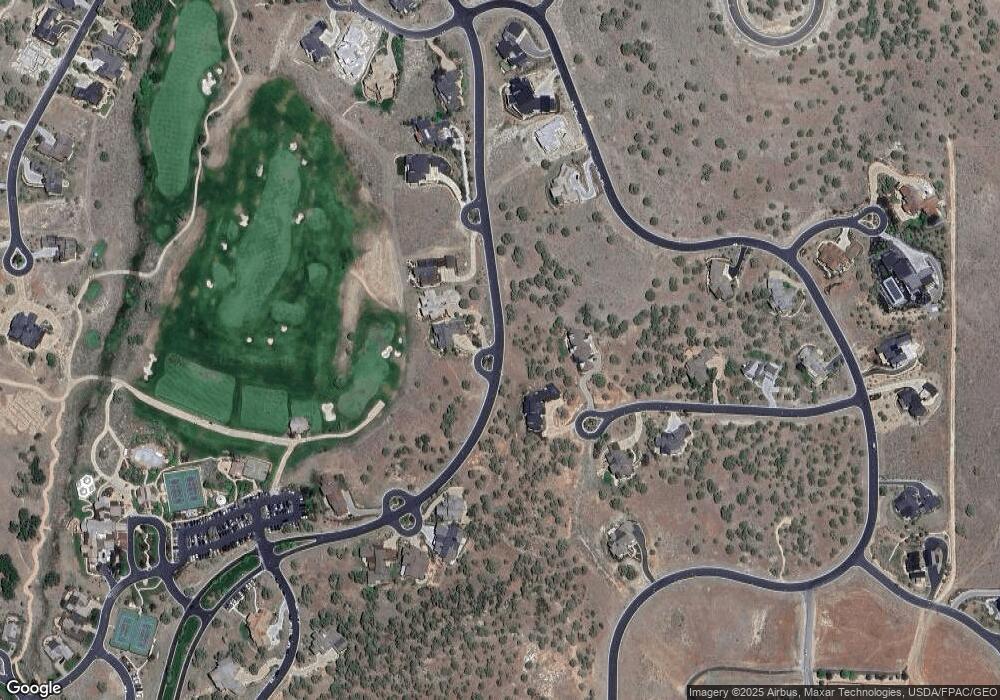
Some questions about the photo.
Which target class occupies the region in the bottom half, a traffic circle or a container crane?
traffic circle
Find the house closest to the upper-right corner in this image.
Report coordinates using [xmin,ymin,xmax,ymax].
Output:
[898,183,942,218]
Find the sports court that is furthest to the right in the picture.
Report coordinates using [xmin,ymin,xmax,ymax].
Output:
[243,458,271,481]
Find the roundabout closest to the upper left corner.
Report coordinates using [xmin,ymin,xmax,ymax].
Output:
[3,243,33,276]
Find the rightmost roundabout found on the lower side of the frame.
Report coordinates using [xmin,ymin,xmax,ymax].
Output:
[575,408,606,439]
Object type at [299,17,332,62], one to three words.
house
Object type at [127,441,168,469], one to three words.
swimming pool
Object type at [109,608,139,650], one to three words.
tennis court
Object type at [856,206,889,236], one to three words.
roundabout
